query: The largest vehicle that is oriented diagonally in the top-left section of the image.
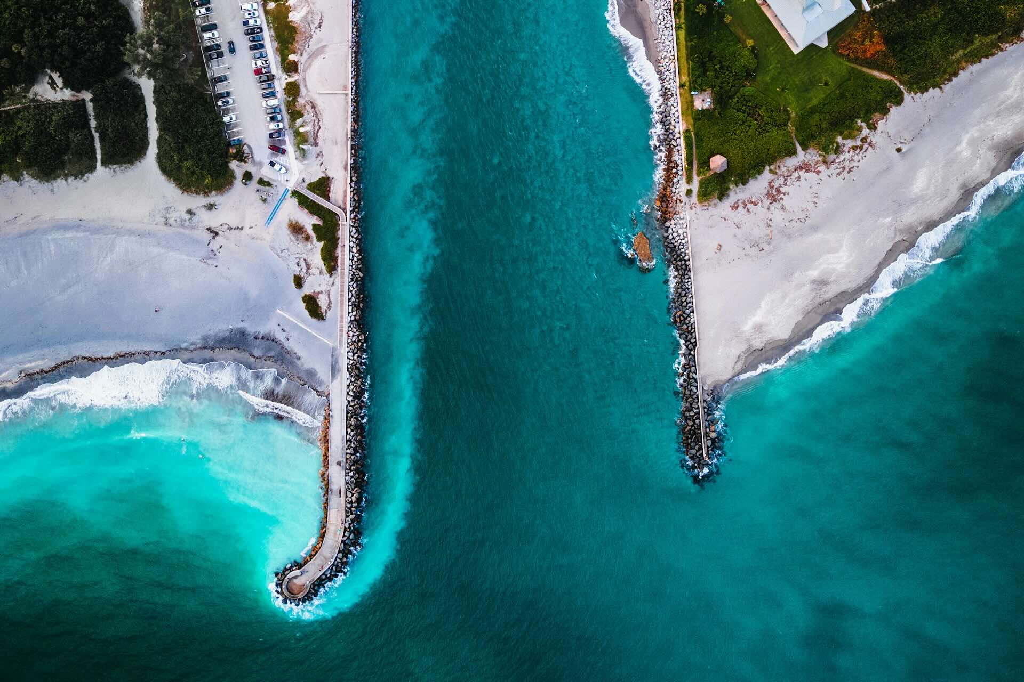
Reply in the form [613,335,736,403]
[267,158,288,175]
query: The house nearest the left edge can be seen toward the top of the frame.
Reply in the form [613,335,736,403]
[752,0,859,55]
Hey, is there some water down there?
Yes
